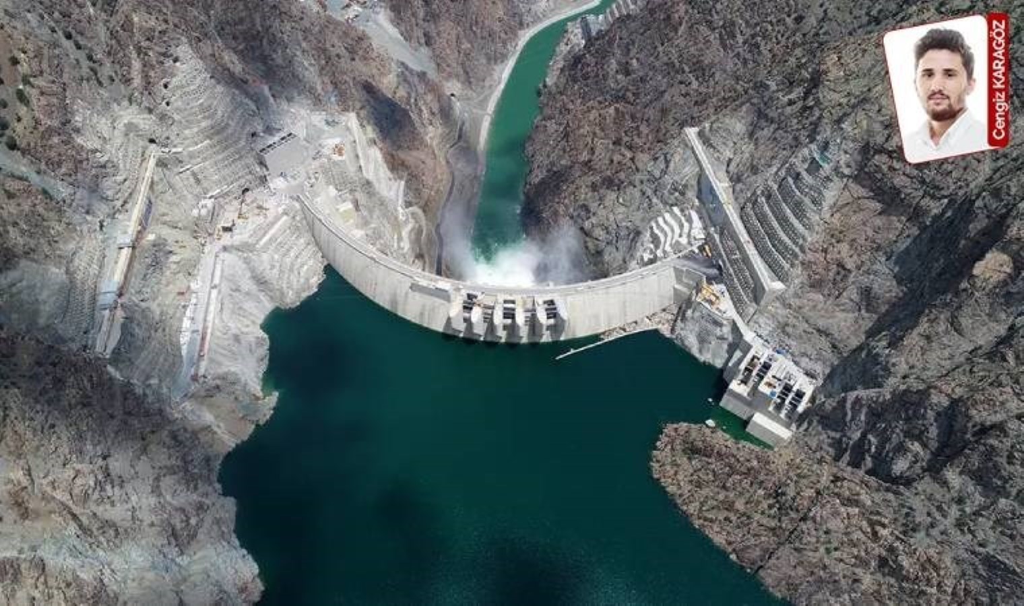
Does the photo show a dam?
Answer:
Yes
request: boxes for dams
[295,197,707,343]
